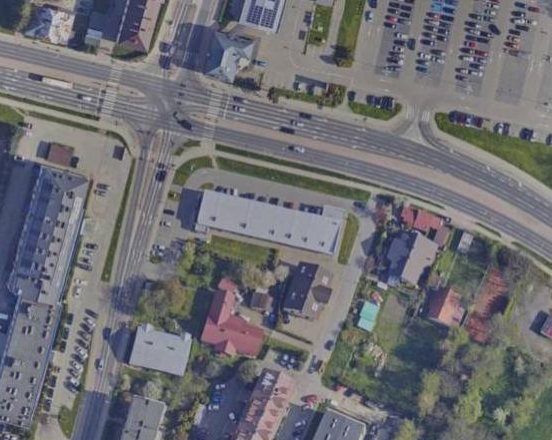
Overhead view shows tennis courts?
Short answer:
No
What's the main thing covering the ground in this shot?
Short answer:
paved ground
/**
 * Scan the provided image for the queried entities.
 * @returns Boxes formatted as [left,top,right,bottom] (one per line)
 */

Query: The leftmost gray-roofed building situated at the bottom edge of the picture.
[0,294,64,431]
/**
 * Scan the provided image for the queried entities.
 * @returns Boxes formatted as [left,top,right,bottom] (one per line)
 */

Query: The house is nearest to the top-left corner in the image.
[25,7,74,46]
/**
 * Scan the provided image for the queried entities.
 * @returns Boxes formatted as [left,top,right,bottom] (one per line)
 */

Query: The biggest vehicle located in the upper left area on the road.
[41,76,74,91]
